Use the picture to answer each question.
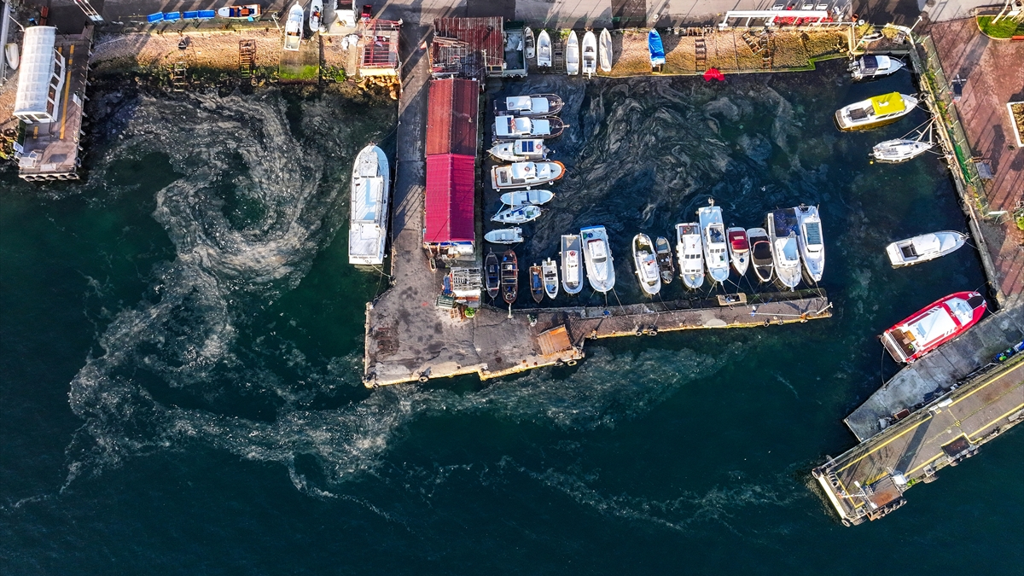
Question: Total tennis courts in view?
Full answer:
The photo contains no tennis courts.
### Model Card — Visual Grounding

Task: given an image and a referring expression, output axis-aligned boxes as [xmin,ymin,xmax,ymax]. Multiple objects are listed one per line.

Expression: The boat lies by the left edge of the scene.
[5,41,19,72]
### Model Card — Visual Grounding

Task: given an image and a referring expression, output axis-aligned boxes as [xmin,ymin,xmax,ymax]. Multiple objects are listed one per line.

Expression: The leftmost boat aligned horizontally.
[218,4,261,20]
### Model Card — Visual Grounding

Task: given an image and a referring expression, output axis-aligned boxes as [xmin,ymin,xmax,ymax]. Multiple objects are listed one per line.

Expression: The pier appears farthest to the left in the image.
[18,31,96,183]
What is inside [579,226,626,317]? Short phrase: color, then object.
white boat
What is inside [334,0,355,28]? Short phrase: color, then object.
white boat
